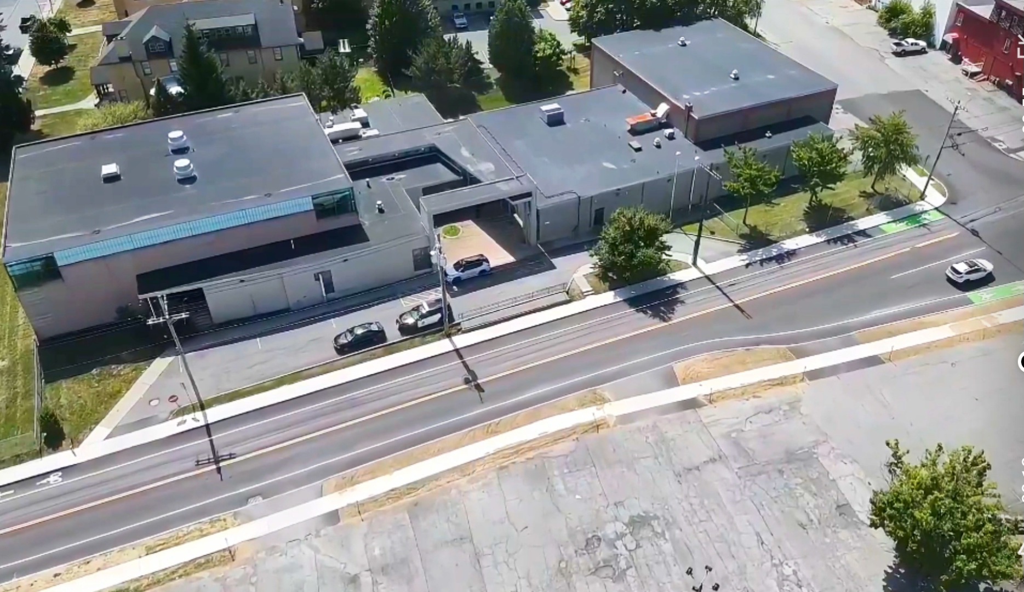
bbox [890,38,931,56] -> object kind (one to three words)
vehicle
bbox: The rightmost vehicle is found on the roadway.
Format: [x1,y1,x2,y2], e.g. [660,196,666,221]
[945,257,997,284]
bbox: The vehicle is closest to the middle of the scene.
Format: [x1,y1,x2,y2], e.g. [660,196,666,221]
[444,250,490,280]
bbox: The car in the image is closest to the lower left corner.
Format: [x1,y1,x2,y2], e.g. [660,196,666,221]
[331,316,387,349]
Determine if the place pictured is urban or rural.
urban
